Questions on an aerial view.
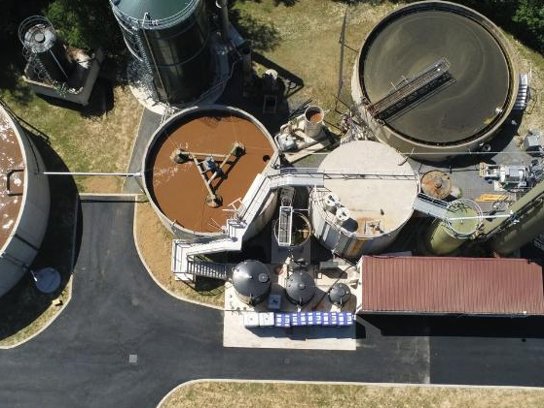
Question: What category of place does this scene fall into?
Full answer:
This looks like an industrial area.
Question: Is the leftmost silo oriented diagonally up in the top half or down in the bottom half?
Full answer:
Seen from above, the leftmost silo oriented diagonally lies in the top half of the view.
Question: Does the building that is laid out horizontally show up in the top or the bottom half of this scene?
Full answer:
It is in the bottom half that the building that is laid out horizontally appears.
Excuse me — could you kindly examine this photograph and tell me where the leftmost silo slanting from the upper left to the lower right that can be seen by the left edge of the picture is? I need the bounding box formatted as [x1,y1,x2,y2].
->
[17,10,74,81]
